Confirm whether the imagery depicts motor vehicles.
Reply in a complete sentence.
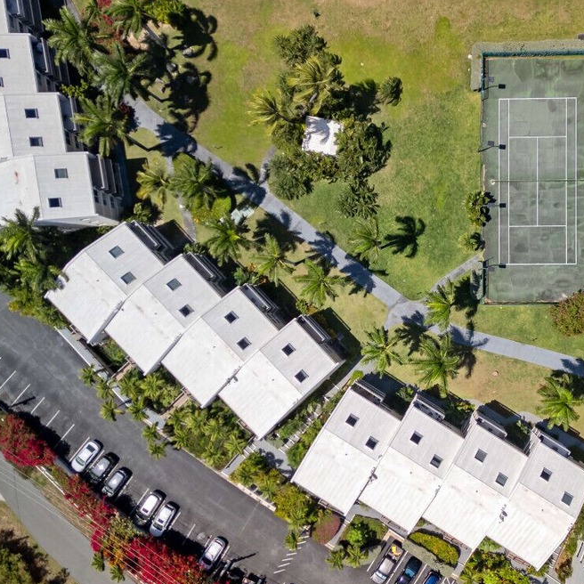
Yes, this view includes a motor vehicle.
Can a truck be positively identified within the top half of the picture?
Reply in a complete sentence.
No, I see no truck within the top half of the picture.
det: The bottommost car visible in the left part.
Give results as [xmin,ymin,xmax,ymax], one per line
[199,537,227,571]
